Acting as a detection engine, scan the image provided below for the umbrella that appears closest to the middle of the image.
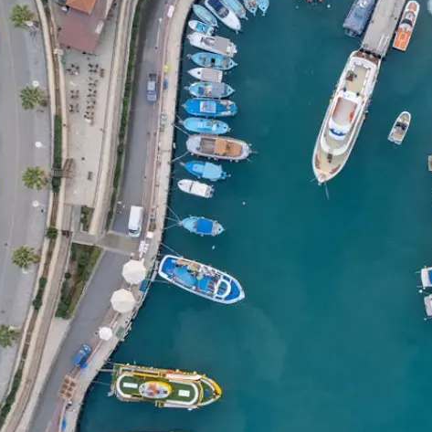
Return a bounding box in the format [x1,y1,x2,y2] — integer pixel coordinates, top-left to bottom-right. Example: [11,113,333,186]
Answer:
[123,260,147,283]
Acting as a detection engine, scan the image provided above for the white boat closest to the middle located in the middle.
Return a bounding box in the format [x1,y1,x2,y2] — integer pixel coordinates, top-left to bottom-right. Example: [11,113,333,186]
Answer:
[170,178,217,198]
